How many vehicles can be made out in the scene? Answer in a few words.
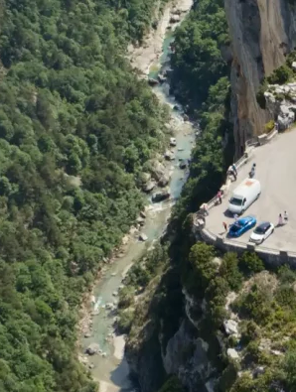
3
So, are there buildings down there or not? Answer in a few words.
No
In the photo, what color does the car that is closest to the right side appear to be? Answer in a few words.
white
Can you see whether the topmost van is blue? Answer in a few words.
No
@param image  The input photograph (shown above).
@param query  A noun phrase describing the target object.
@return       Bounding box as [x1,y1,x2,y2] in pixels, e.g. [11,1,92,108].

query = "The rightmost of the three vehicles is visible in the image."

[248,216,276,242]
